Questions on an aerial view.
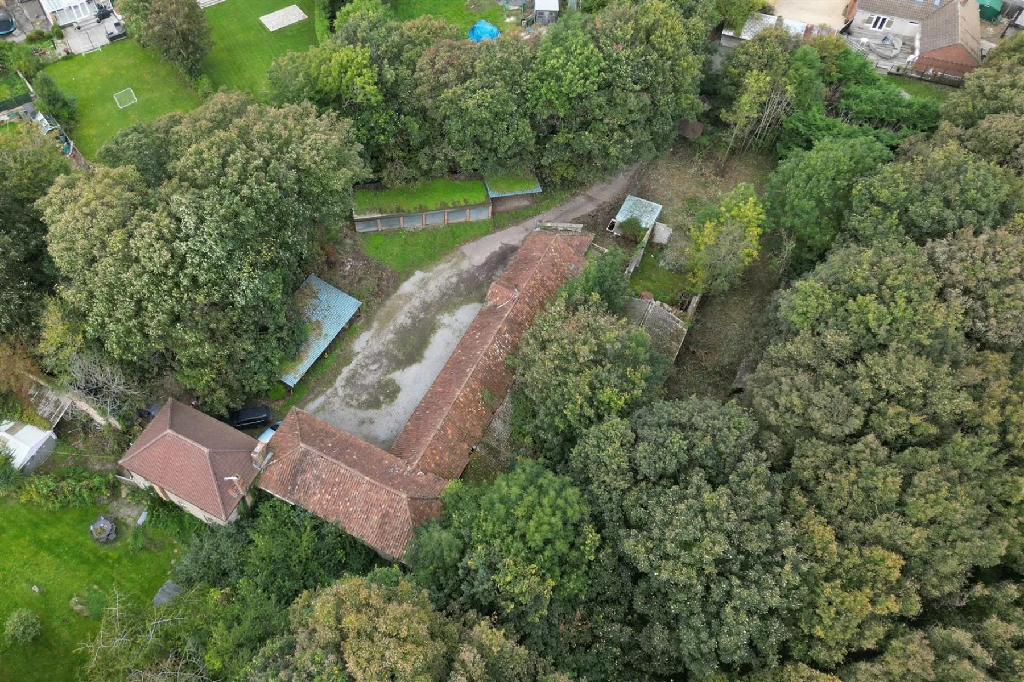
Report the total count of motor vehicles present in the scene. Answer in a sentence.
The photo contains 2 motor vehicles.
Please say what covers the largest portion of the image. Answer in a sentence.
The scene is dominated by trees.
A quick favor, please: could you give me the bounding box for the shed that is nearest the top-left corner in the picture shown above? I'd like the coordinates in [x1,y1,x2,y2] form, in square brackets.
[22,0,51,31]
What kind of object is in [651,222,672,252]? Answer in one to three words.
shed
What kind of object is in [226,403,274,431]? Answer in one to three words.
car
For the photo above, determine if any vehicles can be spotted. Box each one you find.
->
[254,419,286,447]
[226,403,274,431]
